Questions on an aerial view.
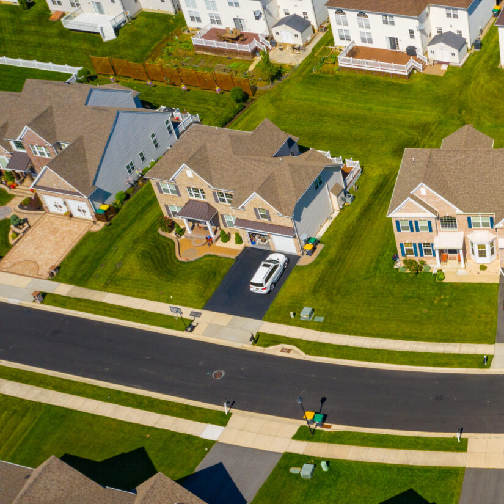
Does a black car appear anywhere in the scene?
No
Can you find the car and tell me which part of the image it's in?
center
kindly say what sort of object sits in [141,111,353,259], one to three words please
house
